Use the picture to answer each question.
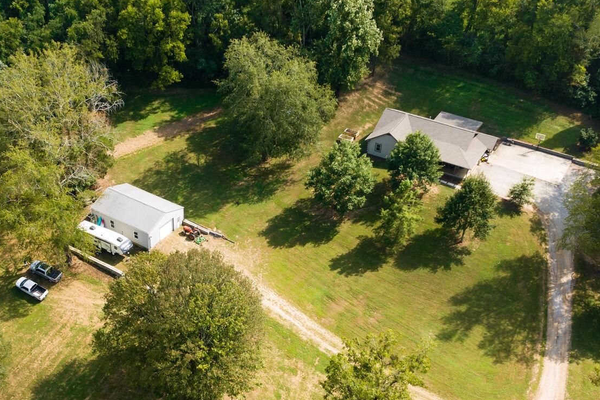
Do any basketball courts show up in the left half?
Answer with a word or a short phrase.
No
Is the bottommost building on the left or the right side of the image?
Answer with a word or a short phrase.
left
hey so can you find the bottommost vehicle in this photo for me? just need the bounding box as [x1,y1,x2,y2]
[14,278,52,304]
